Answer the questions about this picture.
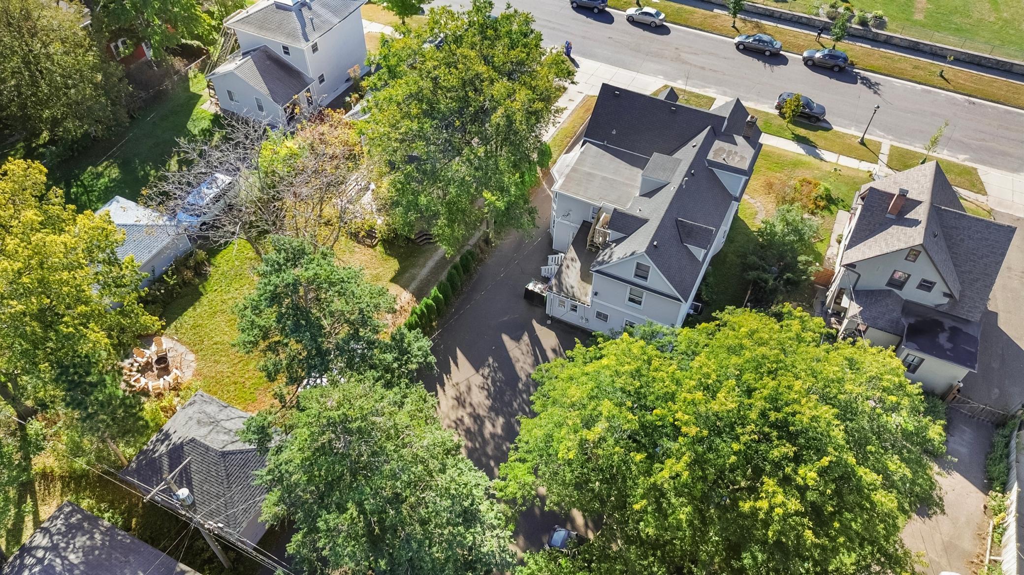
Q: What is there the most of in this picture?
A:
trees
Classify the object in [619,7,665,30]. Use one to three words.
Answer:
car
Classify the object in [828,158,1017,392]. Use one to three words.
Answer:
house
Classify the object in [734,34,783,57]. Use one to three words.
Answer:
car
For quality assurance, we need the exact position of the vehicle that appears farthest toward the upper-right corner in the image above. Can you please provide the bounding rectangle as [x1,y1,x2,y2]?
[801,48,853,74]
